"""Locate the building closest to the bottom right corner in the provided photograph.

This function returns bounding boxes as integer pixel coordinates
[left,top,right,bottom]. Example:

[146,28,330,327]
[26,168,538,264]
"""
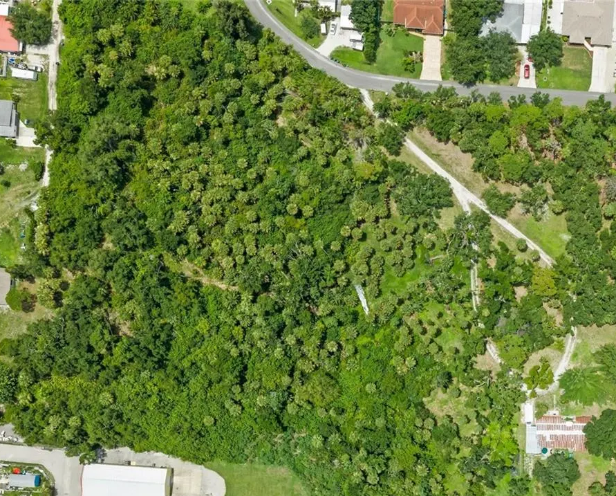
[526,415,591,453]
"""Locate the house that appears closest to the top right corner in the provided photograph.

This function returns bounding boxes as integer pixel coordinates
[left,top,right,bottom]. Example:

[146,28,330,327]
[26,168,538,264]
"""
[562,0,614,49]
